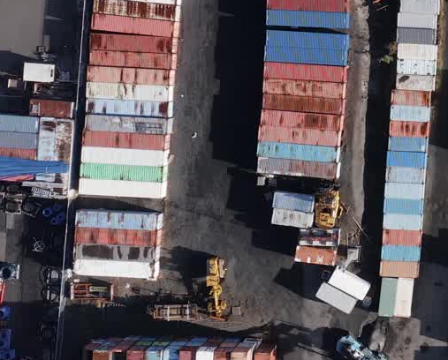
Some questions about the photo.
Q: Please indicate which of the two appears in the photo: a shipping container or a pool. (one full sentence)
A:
Looking from above, you can make out a shipping container.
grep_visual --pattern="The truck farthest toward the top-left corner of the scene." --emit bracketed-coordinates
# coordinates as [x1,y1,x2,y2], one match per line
[24,52,63,82]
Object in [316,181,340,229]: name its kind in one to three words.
work vehicle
